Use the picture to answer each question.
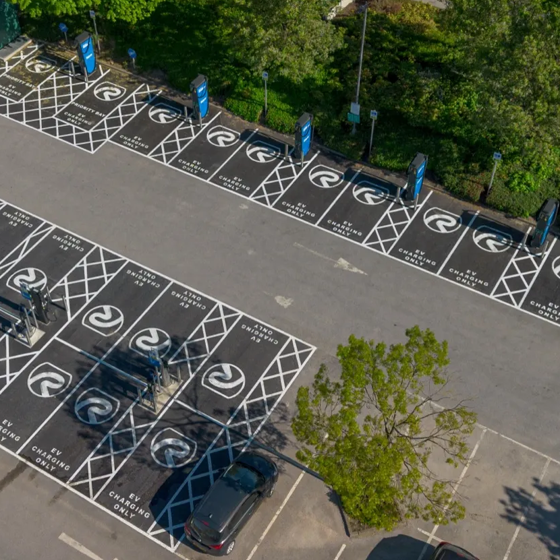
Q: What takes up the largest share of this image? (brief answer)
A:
paved ground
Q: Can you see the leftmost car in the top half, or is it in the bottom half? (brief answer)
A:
bottom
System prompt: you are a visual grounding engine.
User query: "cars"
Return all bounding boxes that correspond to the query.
[428,540,483,560]
[185,452,281,560]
